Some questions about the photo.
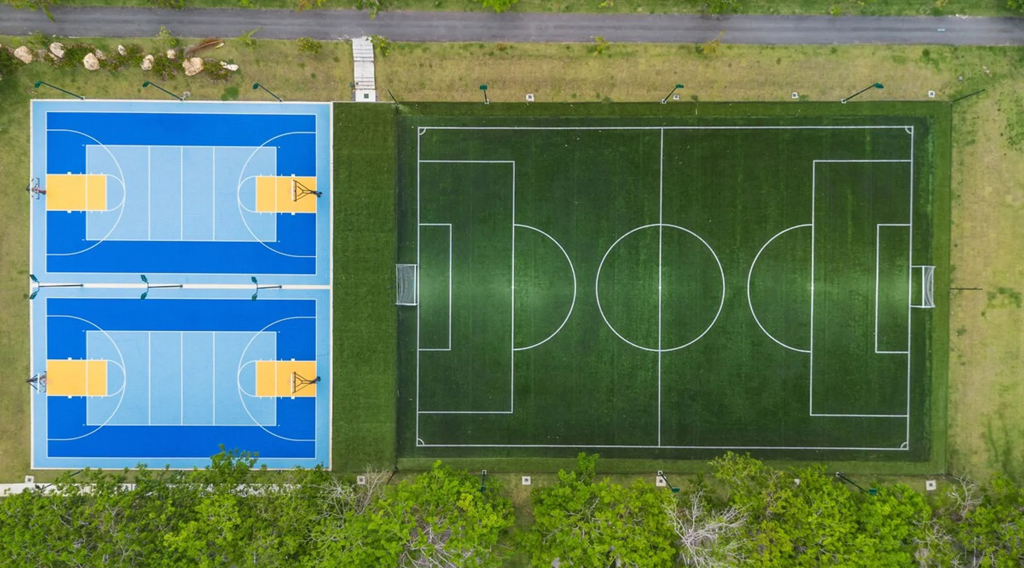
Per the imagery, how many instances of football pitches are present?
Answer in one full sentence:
I count 1 football pitch.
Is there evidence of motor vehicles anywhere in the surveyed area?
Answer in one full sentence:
No, no motor vehicle is visible in the view.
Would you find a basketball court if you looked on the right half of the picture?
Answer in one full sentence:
No, there is no basketball court on the right half of the picture.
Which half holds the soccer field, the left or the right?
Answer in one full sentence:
The soccer field sits on the right side.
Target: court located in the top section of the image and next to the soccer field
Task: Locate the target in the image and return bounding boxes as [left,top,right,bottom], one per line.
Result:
[32,102,330,285]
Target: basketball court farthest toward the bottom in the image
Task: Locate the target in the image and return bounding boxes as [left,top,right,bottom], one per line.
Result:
[33,287,330,468]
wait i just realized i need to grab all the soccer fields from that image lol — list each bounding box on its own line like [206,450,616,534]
[396,103,951,475]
